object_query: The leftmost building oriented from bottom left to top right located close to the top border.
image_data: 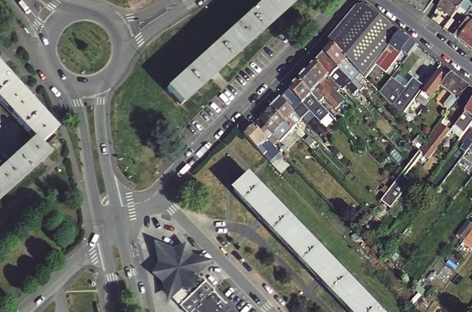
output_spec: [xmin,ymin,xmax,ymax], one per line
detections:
[166,0,298,105]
